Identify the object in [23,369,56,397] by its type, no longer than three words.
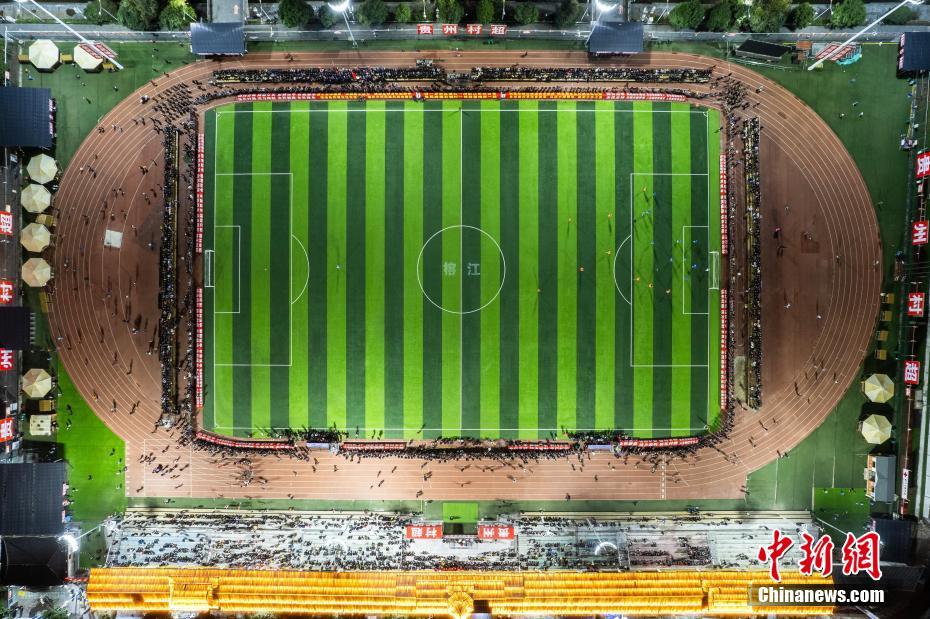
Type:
umbrella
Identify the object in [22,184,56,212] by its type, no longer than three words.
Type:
umbrella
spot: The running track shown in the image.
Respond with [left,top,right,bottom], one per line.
[45,48,882,500]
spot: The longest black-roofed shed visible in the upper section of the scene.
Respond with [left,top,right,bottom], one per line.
[730,40,791,64]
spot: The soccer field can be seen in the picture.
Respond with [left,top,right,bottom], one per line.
[197,98,726,443]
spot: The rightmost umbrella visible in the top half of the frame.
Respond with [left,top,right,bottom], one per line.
[74,42,103,69]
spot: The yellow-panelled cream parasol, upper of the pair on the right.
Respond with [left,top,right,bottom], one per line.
[860,375,893,402]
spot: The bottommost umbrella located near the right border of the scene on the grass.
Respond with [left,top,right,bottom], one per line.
[857,415,890,443]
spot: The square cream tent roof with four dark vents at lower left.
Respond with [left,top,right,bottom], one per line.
[30,415,56,435]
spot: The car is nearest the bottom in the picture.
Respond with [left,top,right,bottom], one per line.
[4,150,17,165]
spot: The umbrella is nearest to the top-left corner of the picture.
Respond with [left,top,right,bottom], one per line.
[29,40,62,69]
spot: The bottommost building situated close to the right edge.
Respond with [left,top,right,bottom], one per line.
[819,556,928,619]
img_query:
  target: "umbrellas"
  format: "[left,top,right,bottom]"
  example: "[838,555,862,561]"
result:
[857,415,890,443]
[74,42,103,69]
[21,223,54,251]
[860,375,893,402]
[27,153,62,184]
[23,369,56,397]
[29,40,62,69]
[23,259,56,286]
[22,184,56,212]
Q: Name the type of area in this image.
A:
sports ground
